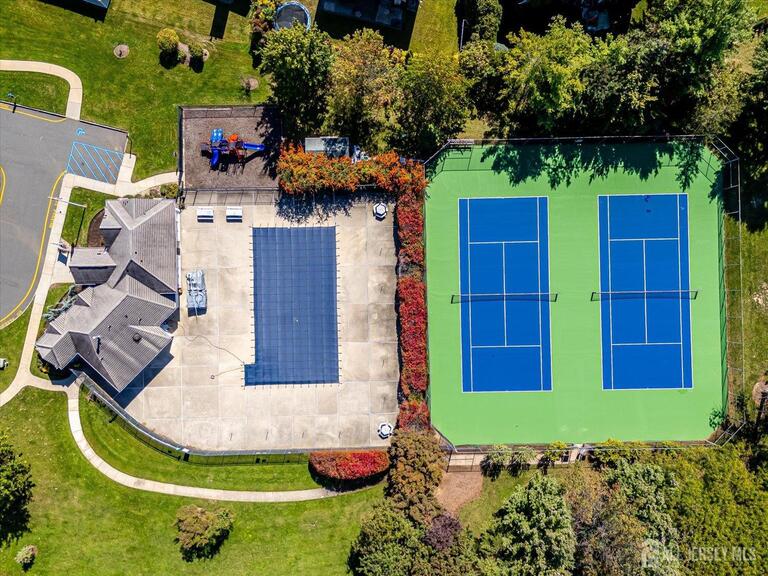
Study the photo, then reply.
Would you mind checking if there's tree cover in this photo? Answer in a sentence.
Yes, the picture does contain tree cover.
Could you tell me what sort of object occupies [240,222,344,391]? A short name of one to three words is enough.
swimming pool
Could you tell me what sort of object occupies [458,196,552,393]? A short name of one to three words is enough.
tennis court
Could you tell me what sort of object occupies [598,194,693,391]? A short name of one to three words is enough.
tennis court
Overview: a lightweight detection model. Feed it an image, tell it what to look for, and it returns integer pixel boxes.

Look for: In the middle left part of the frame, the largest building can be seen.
[35,196,183,391]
